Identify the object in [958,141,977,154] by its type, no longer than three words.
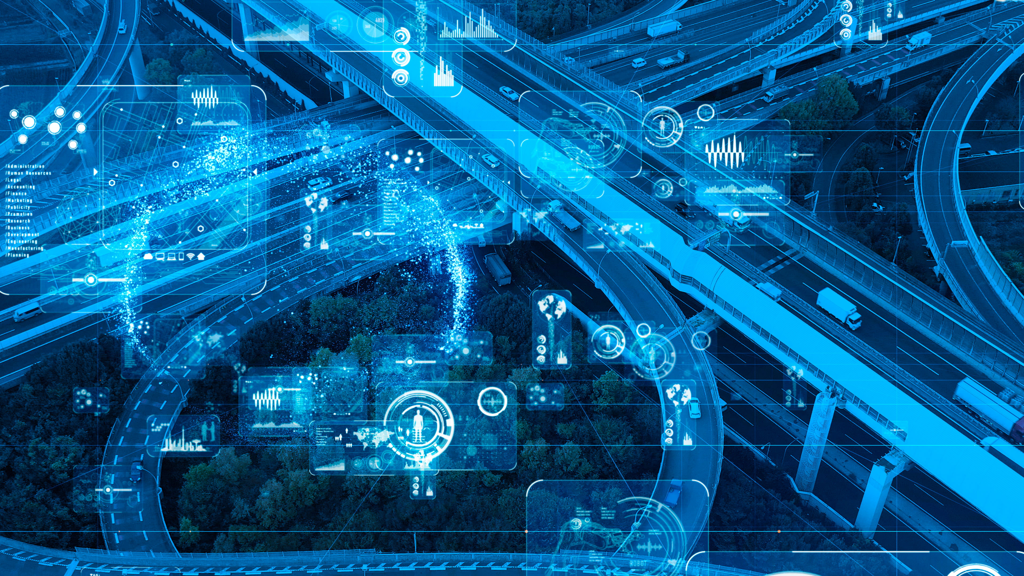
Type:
vehicle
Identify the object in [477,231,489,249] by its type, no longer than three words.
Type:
vehicle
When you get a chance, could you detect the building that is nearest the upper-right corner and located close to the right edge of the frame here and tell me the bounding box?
[957,151,1024,210]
